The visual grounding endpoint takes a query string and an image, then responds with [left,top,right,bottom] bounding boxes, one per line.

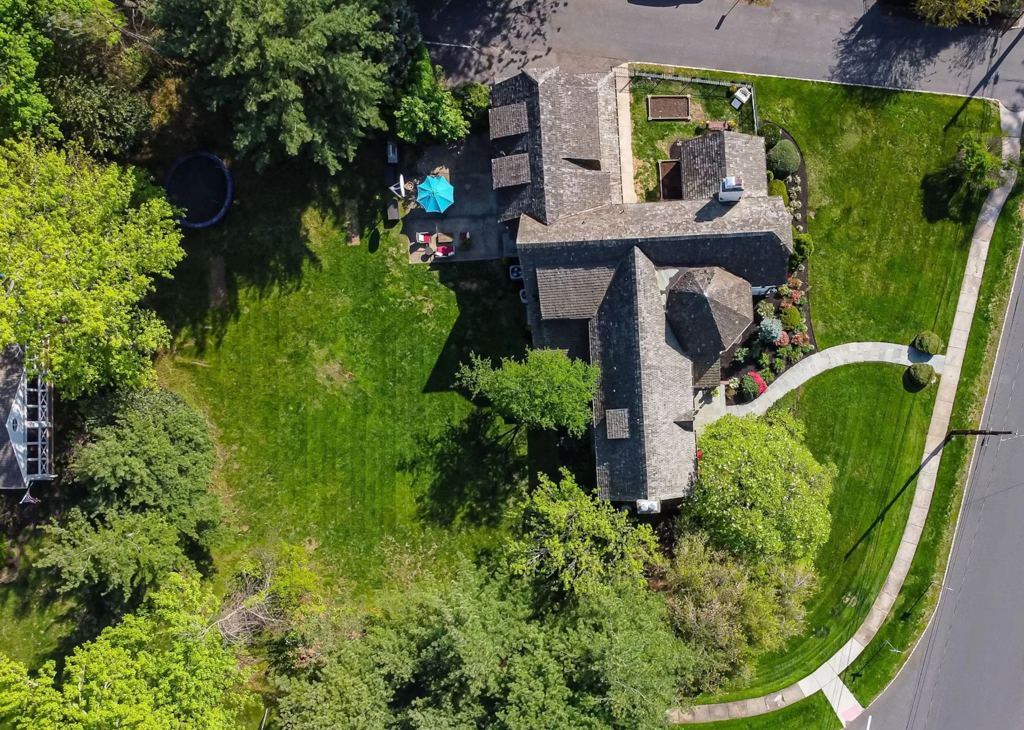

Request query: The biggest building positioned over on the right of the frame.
[488,63,793,513]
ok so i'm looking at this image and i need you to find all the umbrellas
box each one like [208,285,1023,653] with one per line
[416,176,454,213]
